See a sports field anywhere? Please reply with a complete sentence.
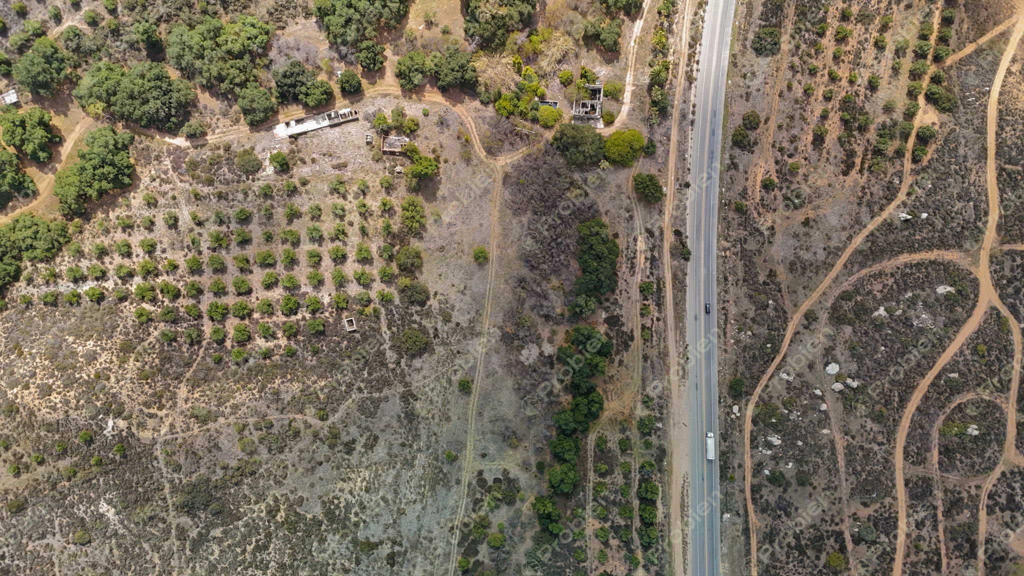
No, the photo shows no sports field.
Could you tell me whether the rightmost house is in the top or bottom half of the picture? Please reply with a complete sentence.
The rightmost house sits in the top half of the picture.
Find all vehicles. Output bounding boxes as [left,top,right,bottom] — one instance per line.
[705,302,710,314]
[706,432,715,461]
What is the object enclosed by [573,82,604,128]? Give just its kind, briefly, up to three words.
house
